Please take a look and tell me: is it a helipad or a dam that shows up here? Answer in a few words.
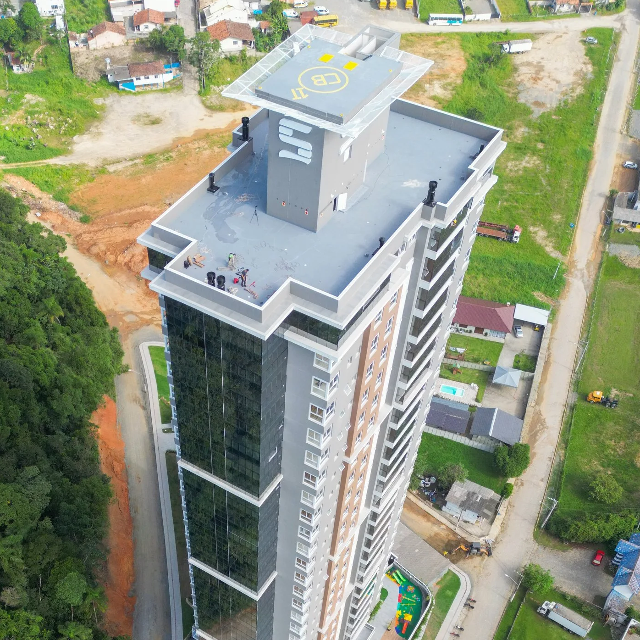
helipad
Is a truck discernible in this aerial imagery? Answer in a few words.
Yes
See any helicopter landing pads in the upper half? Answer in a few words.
Yes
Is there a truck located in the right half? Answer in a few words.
Yes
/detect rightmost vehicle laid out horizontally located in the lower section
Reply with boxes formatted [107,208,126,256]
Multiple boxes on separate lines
[585,390,623,409]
